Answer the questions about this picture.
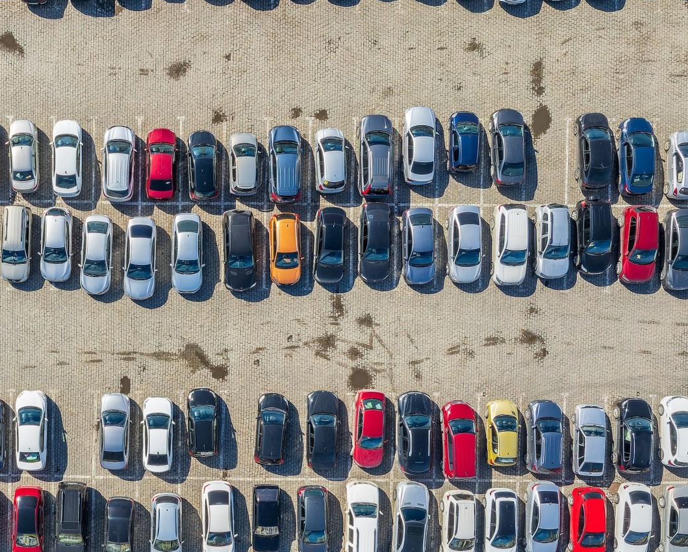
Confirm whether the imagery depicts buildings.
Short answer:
No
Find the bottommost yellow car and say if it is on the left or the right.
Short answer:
right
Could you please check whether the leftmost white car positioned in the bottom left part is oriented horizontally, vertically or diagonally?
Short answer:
vertically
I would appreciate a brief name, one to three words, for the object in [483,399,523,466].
car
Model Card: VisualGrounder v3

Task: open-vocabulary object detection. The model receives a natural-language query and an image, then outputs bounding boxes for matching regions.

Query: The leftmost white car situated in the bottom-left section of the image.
[12,390,50,471]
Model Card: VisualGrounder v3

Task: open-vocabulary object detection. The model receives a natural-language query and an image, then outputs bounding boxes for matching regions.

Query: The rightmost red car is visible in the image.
[616,205,662,284]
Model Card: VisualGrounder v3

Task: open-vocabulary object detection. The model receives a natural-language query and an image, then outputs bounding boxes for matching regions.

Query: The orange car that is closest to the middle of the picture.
[268,212,305,286]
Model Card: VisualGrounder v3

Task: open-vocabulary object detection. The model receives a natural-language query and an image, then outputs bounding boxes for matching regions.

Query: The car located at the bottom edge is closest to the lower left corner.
[11,483,48,552]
